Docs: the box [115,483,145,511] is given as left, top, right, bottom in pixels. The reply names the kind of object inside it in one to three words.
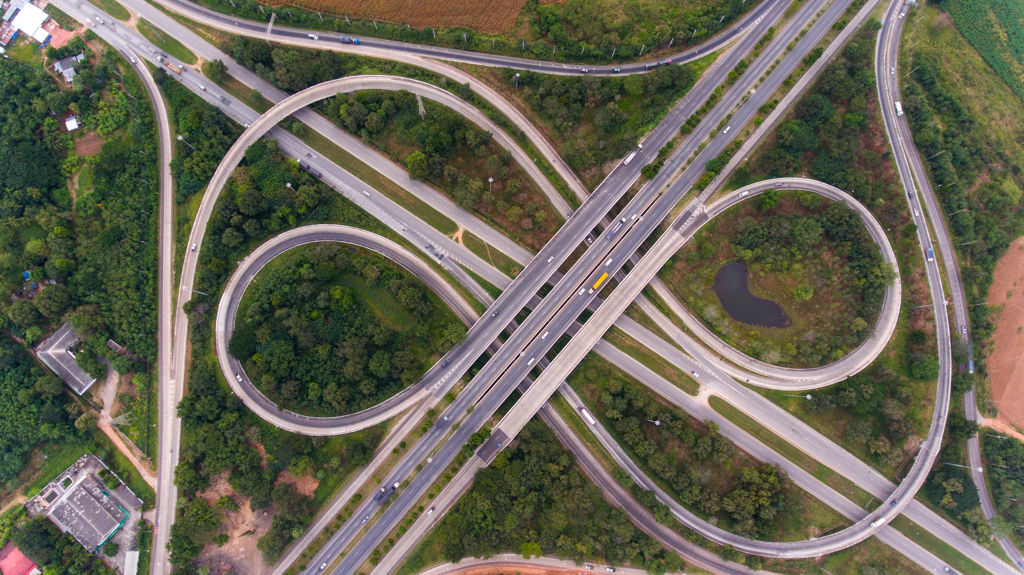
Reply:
shed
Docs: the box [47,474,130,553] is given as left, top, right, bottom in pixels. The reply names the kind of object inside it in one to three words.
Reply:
building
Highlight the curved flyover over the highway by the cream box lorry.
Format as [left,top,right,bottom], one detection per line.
[822,448,937,553]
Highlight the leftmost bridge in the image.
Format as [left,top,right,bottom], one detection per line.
[235,74,368,152]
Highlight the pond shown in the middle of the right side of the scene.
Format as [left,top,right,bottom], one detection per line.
[715,261,793,329]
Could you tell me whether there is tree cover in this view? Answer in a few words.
Yes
